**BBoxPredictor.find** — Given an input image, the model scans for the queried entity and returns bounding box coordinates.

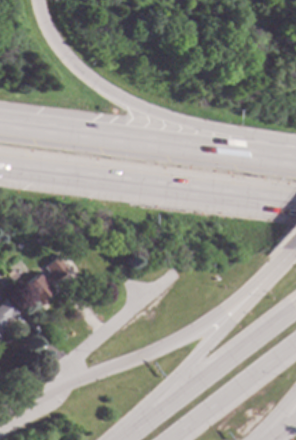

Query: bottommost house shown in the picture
[0,298,21,329]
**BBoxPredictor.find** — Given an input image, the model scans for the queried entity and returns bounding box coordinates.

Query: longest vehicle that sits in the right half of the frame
[208,146,252,158]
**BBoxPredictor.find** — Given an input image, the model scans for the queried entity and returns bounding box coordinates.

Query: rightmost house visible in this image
[49,250,78,276]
